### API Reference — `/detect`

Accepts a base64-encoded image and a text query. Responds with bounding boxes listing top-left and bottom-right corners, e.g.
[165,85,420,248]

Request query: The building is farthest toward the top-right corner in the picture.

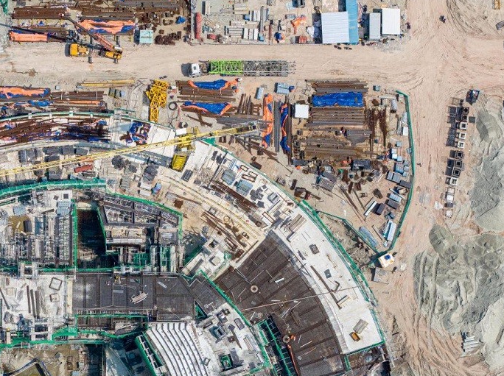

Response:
[380,9,400,38]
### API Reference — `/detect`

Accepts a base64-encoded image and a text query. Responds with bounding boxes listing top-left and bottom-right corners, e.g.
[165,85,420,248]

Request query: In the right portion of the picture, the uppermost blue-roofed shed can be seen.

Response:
[344,0,358,46]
